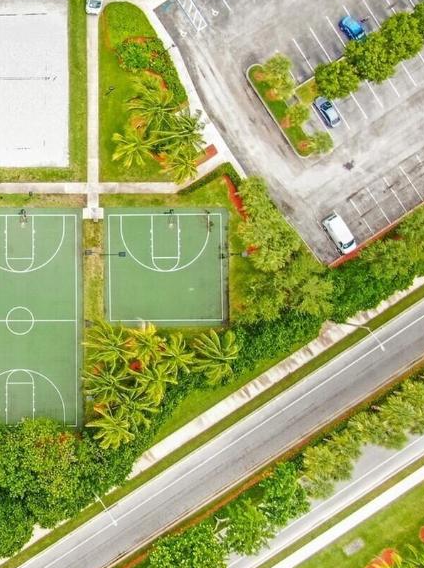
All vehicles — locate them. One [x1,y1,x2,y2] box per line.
[321,213,354,251]
[312,96,341,130]
[337,11,365,42]
[86,0,102,13]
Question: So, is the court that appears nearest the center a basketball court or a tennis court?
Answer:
basketball court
